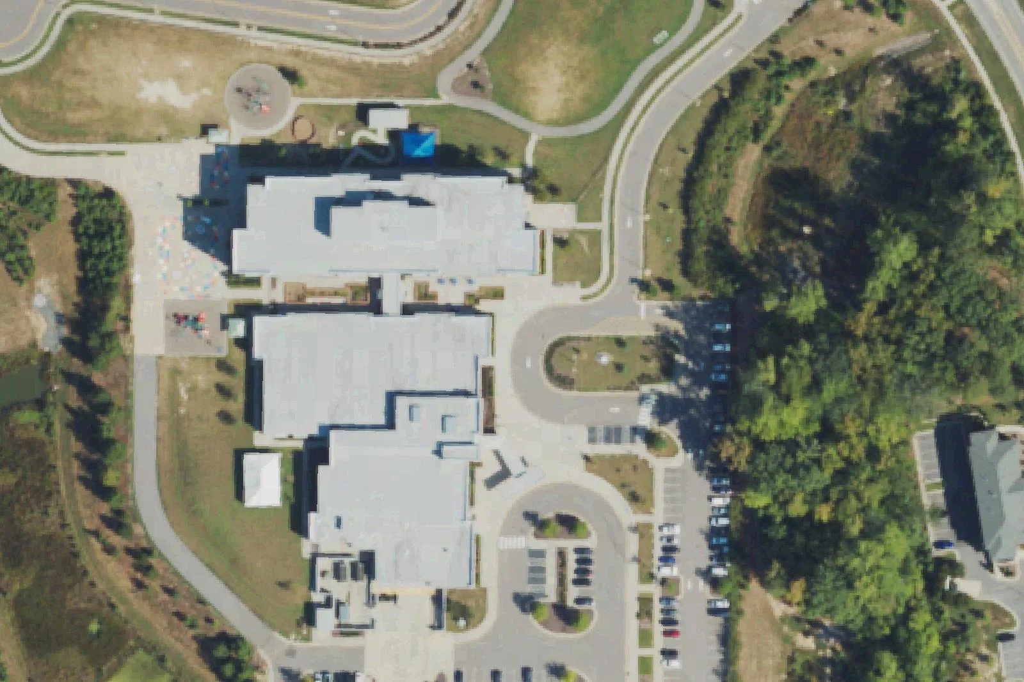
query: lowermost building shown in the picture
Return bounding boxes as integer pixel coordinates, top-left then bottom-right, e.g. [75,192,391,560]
[316,607,333,630]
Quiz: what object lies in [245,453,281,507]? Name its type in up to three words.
building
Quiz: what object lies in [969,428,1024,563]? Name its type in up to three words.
building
